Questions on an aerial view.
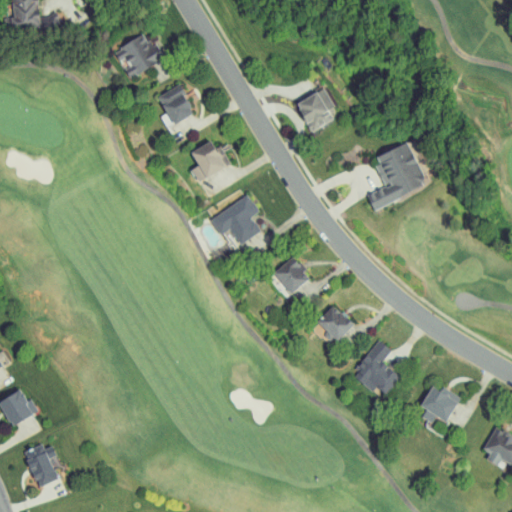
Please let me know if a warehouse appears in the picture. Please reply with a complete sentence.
No, the photo shows no warehouse.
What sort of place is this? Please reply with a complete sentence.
This looks like a golf course.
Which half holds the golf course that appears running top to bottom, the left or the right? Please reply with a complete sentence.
The golf course that appears running top to bottom sits on the right side.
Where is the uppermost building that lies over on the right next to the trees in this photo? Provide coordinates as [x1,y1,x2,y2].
[298,88,337,132]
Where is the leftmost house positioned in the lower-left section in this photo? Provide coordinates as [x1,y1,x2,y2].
[0,390,40,426]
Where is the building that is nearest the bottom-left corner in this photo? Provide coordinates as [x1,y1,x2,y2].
[23,444,66,488]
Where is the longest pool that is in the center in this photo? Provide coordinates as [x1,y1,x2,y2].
[202,224,220,248]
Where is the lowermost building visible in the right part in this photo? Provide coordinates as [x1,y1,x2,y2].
[484,426,512,471]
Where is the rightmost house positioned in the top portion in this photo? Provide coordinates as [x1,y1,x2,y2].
[368,143,426,210]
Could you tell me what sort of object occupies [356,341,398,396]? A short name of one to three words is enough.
house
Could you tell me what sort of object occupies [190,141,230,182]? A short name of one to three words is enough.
house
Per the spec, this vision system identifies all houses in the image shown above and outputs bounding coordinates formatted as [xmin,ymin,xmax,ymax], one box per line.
[298,88,337,132]
[4,0,54,26]
[356,341,398,396]
[208,190,260,243]
[368,143,426,210]
[314,306,354,340]
[23,444,66,488]
[190,141,230,182]
[116,34,163,80]
[275,258,310,293]
[423,388,462,423]
[0,390,40,426]
[484,426,512,471]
